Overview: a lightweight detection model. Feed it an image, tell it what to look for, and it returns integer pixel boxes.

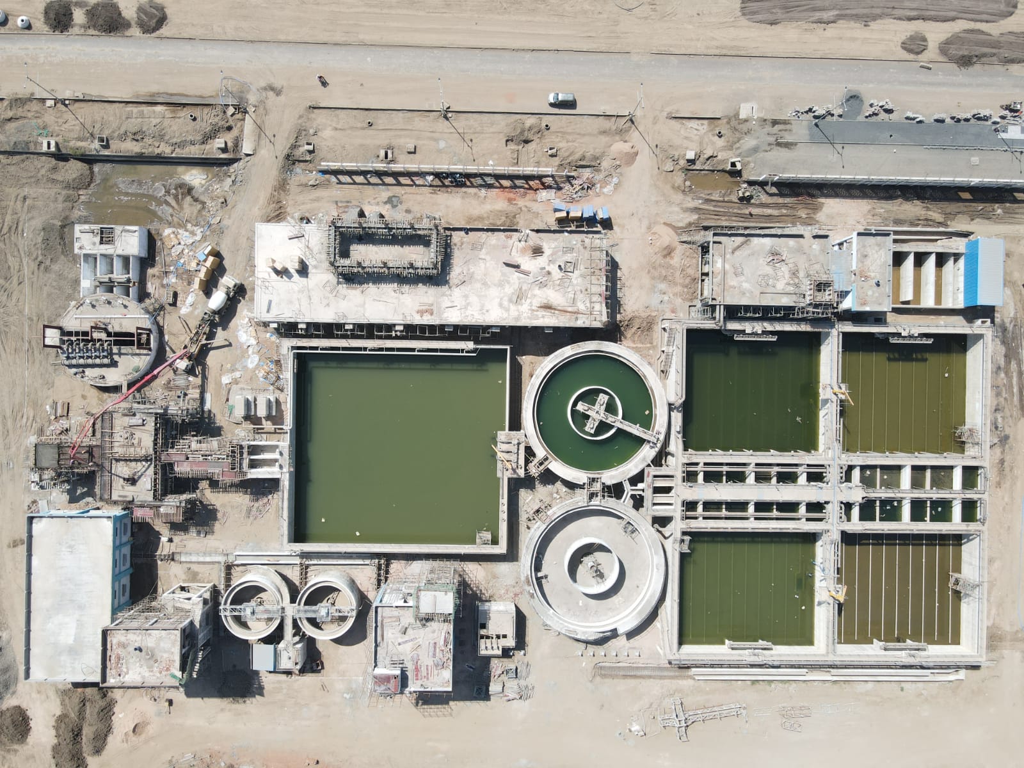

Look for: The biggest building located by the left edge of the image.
[25,509,137,682]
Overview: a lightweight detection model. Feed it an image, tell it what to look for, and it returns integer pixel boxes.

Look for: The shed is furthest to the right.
[963,238,1005,309]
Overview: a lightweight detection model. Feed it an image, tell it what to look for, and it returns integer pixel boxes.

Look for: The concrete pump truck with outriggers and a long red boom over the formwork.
[69,314,233,464]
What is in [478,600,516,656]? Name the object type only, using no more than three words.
building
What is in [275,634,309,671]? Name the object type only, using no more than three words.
building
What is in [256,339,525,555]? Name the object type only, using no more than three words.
water tank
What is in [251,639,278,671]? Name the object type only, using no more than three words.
shed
